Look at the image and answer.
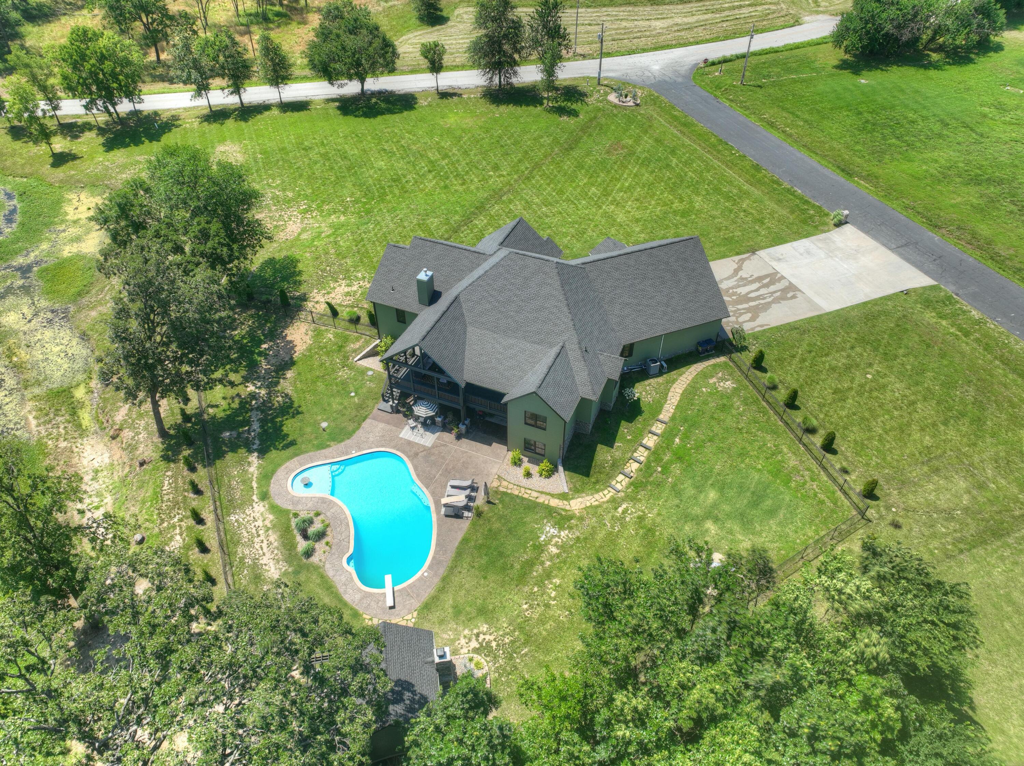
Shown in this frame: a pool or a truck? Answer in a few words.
pool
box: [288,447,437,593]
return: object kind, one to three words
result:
swimming pool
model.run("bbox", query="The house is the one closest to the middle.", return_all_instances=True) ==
[364,218,731,466]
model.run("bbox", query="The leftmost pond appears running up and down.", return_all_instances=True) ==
[0,179,106,453]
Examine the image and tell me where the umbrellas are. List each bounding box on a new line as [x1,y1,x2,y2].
[413,400,439,418]
[482,479,494,506]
